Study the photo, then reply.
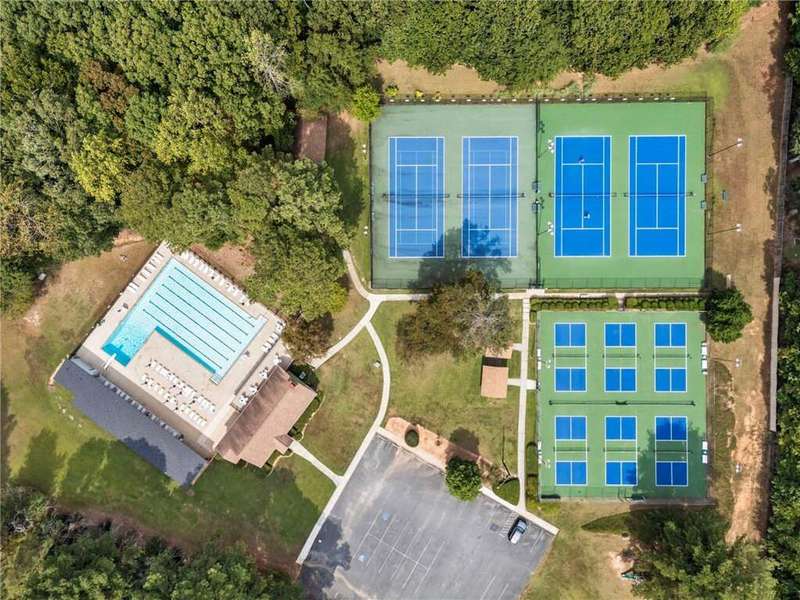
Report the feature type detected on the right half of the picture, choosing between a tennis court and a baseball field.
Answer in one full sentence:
Looking on the right half of the picture, you will find a tennis court.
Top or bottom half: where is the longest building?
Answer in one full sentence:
Seen from above, the longest building lies in the bottom half of the view.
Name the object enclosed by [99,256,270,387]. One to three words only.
swimming pool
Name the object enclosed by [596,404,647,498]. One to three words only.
sports court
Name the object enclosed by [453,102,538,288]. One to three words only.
tennis court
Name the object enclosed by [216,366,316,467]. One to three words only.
building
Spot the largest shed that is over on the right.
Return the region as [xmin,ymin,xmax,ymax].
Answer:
[480,365,509,398]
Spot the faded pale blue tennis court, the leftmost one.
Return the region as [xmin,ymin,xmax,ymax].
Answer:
[370,103,454,288]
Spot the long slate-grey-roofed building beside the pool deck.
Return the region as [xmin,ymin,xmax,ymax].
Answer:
[52,355,214,488]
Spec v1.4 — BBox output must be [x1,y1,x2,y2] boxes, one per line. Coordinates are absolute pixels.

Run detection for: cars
[509,520,528,546]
